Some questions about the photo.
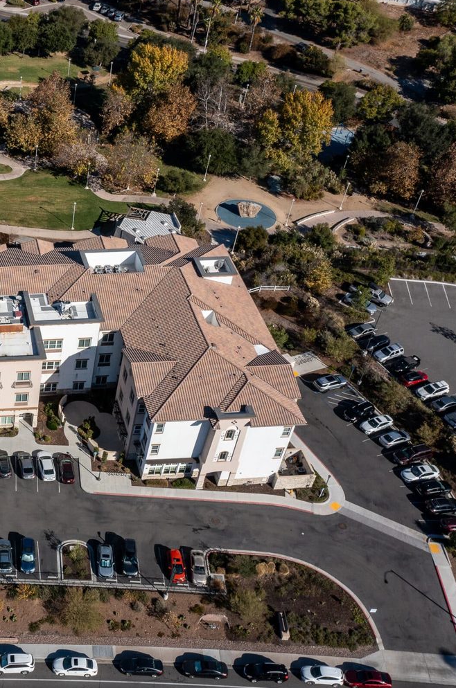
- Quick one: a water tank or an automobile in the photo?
automobile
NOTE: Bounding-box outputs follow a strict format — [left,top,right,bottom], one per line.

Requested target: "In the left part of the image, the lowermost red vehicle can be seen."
[166,550,187,585]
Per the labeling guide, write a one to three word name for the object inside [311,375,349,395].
car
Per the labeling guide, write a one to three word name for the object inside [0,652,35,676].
car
